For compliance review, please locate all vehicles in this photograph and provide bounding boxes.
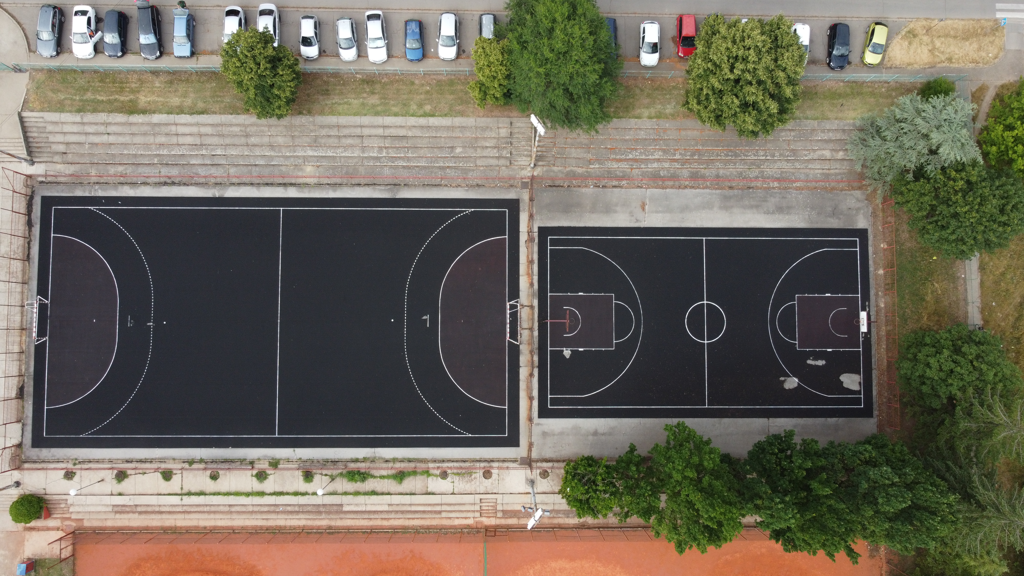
[824,20,852,70]
[296,12,322,59]
[638,18,662,66]
[787,19,813,66]
[68,5,103,59]
[364,9,389,63]
[257,6,281,43]
[860,18,891,67]
[402,16,426,62]
[100,8,130,58]
[131,0,165,60]
[677,12,700,58]
[435,10,459,60]
[219,8,245,48]
[475,14,497,44]
[32,4,66,57]
[169,9,196,58]
[335,13,360,61]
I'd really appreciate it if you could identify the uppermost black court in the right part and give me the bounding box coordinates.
[538,227,873,418]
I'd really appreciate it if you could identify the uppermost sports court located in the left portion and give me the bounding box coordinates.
[31,196,519,448]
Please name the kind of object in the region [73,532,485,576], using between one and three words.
tennis court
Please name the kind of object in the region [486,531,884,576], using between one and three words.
tennis court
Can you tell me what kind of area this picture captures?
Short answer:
sports ground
